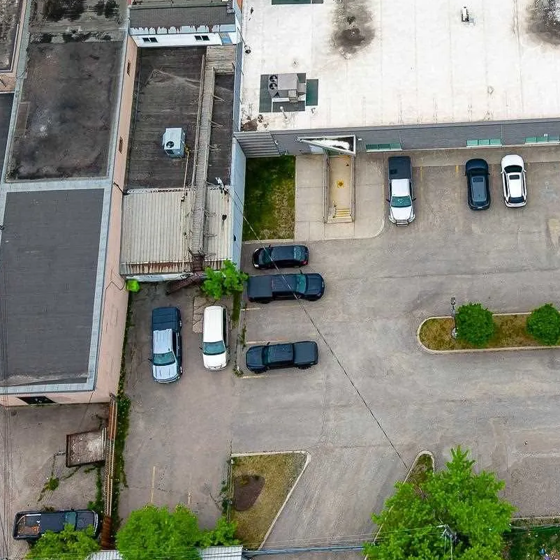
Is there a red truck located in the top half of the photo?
No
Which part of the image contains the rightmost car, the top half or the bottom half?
top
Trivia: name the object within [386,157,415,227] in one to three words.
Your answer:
truck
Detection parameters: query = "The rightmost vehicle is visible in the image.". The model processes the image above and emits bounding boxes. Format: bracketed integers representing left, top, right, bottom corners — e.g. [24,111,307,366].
[499,155,528,210]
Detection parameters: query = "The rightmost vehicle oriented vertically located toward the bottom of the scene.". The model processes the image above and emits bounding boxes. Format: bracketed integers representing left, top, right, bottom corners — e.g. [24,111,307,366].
[198,306,229,373]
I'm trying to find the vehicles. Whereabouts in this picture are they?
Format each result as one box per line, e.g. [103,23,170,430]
[247,272,325,305]
[463,159,492,214]
[12,507,100,541]
[148,306,183,384]
[245,341,320,372]
[198,306,229,373]
[386,157,415,227]
[499,155,528,210]
[253,243,310,272]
